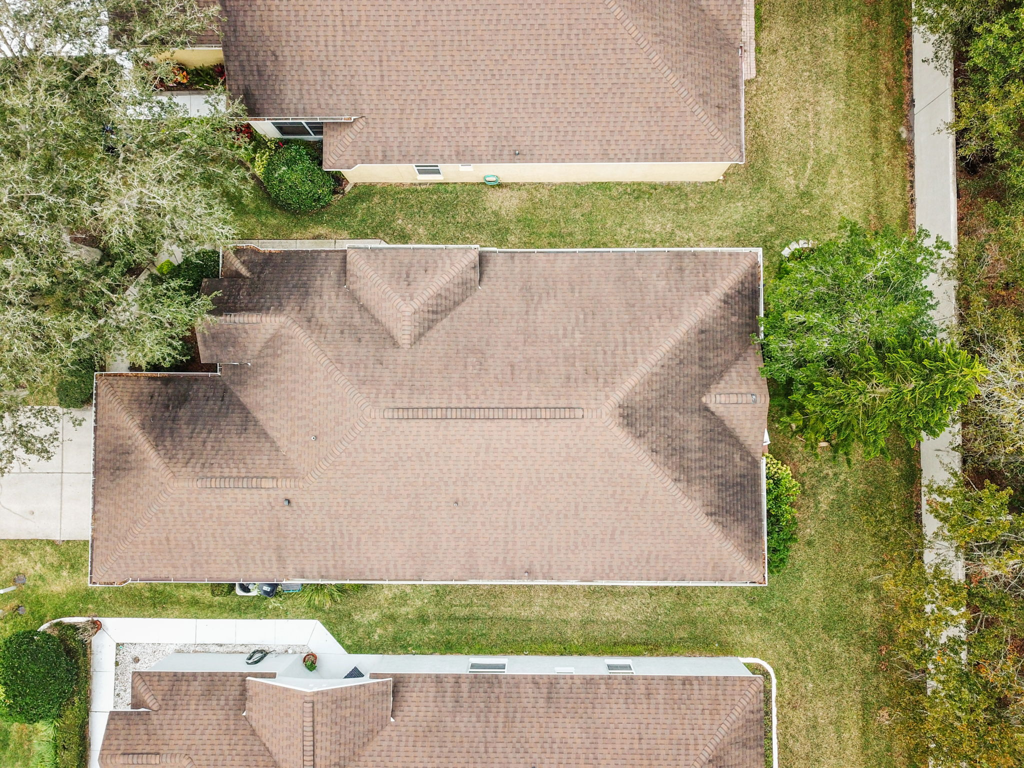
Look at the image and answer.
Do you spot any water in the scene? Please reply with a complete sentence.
No, water can't be seen anywhere here.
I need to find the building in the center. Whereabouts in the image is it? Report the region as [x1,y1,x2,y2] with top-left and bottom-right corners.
[85,243,773,591]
